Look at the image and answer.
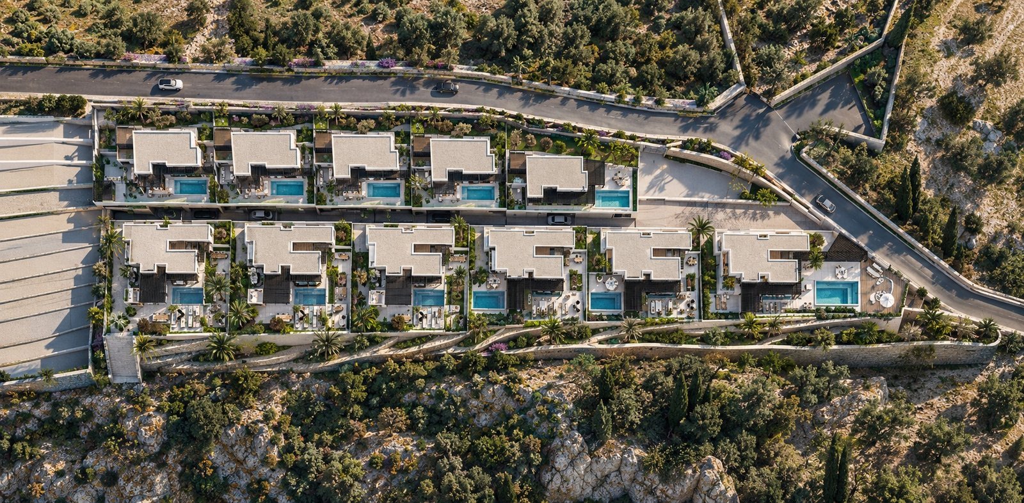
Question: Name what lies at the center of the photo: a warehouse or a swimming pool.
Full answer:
Visible at the center of the photo is a swimming pool.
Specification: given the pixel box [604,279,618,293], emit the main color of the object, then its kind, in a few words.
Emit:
white umbrella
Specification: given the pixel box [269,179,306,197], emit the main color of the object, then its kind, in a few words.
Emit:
blue swimming pool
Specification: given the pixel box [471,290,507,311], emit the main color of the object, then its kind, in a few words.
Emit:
blue swimming pool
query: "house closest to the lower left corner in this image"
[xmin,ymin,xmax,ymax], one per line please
[120,221,216,307]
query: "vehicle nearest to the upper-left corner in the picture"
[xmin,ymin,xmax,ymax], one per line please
[158,78,182,91]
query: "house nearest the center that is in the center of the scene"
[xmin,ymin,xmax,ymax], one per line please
[486,227,578,315]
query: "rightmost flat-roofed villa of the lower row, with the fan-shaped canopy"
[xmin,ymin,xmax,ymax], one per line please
[718,232,813,317]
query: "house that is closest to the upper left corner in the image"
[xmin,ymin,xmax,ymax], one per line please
[115,126,215,193]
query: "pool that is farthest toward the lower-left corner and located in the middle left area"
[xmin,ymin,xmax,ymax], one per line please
[168,286,204,305]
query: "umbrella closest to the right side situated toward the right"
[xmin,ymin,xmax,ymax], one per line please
[880,294,894,307]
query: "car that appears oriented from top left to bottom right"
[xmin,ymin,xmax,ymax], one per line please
[814,195,837,213]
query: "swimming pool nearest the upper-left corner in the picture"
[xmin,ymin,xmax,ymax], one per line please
[169,177,207,195]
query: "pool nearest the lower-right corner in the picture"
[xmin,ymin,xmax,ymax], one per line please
[812,280,863,306]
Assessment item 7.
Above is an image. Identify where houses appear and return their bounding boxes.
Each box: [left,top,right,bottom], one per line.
[486,227,578,315]
[115,126,215,193]
[508,151,605,209]
[603,230,696,316]
[214,129,314,195]
[120,221,216,307]
[718,232,813,317]
[315,131,415,197]
[365,224,458,311]
[243,223,337,309]
[413,135,514,201]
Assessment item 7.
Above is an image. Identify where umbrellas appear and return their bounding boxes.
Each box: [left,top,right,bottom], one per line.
[880,294,894,307]
[604,279,618,293]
